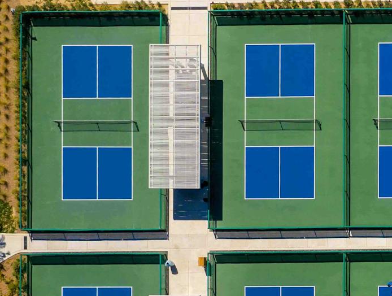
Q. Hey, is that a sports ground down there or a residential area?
sports ground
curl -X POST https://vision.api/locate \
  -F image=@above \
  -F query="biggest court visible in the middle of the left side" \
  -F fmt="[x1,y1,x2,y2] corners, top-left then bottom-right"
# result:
[27,13,168,231]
